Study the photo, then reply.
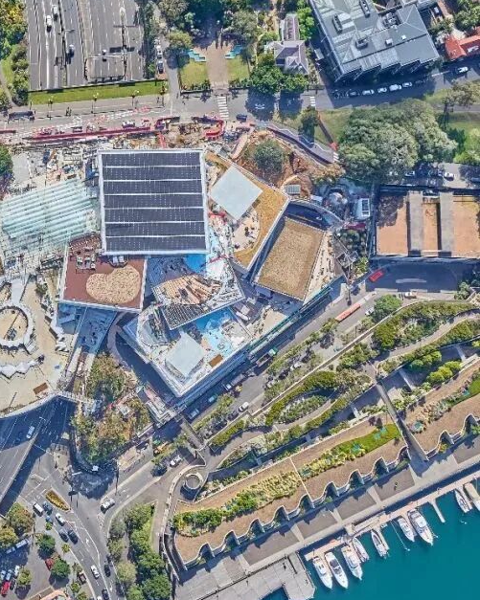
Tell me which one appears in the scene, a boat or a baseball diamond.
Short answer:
boat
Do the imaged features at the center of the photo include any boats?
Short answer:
No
